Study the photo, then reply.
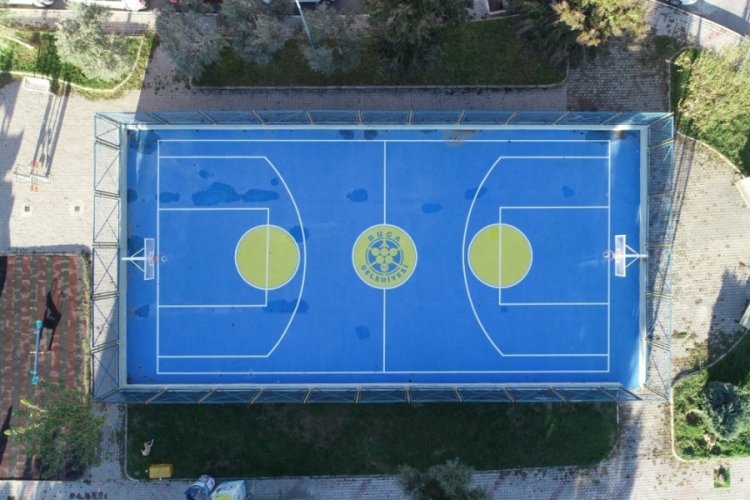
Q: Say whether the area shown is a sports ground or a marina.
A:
sports ground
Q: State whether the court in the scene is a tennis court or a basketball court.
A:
basketball court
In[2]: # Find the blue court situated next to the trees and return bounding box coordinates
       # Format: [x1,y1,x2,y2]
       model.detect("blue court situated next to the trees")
[126,130,639,385]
